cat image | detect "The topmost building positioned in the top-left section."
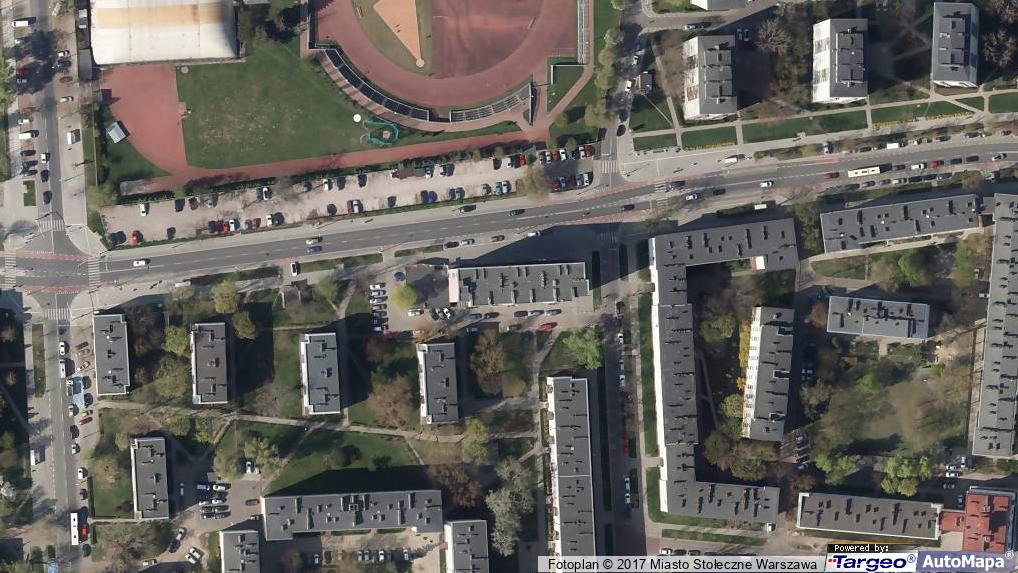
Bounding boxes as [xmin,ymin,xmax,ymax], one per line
[89,0,237,62]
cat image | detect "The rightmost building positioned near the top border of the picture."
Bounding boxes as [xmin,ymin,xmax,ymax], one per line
[920,2,973,88]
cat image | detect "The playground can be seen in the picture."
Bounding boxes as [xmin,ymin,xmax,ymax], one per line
[850,342,976,441]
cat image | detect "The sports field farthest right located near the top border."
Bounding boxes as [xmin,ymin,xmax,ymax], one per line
[431,0,543,80]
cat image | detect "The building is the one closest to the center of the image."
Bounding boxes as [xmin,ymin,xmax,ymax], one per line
[447,263,590,308]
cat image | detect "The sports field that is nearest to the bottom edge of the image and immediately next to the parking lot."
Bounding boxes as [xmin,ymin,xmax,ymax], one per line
[178,57,521,168]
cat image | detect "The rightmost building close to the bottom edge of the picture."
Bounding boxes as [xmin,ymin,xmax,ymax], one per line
[938,486,1016,573]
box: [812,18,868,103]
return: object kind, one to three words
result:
building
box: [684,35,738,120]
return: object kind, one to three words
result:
building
